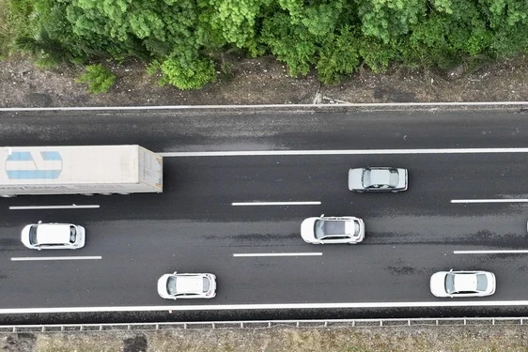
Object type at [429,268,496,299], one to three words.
car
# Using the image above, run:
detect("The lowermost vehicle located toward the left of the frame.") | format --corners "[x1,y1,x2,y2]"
[157,270,219,300]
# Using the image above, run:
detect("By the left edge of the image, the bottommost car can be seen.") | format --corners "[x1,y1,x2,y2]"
[20,219,89,250]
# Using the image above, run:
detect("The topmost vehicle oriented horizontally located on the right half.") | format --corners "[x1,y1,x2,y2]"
[347,163,409,194]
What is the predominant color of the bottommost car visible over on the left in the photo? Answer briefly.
white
